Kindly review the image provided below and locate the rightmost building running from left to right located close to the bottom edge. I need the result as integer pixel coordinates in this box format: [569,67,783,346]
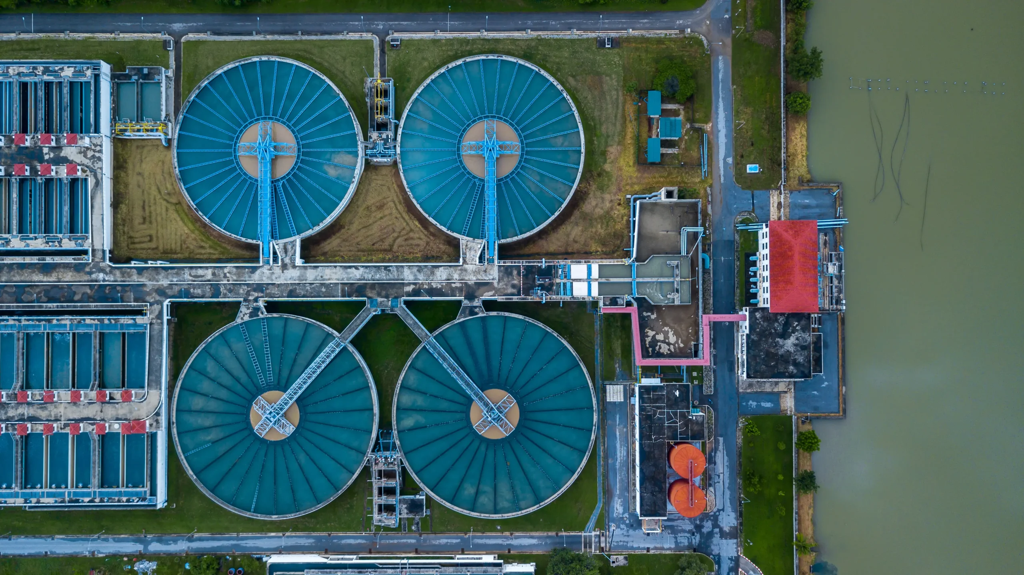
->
[503,559,535,571]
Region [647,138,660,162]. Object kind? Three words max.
shed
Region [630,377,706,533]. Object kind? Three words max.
building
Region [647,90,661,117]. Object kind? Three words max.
shed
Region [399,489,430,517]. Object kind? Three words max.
building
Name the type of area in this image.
industrial area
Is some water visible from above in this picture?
Yes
